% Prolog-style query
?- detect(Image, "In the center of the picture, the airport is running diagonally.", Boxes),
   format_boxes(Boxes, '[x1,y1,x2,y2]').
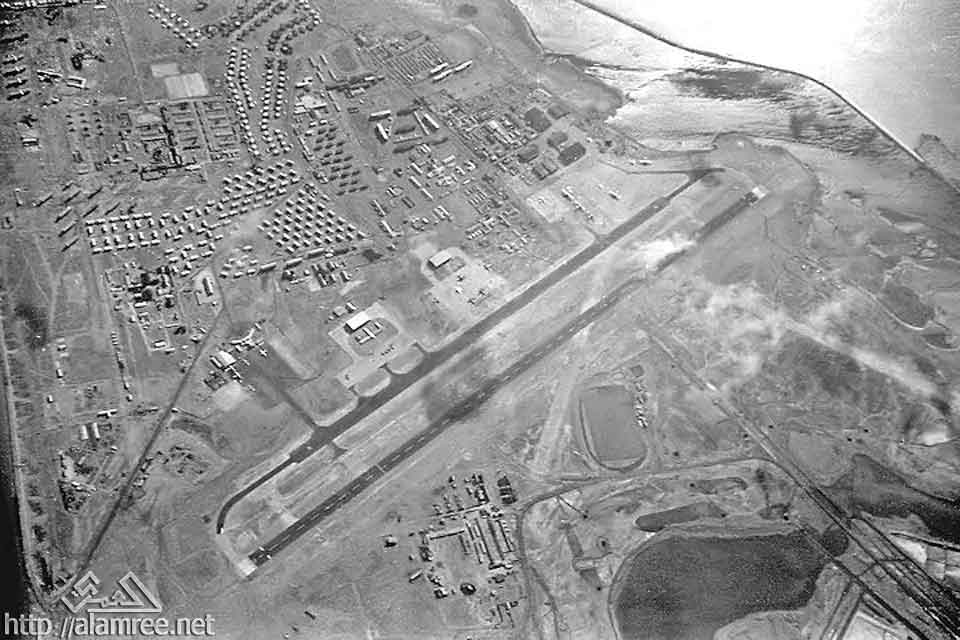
[216,160,768,575]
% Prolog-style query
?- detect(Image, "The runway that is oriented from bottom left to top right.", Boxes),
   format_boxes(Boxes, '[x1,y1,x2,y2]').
[248,197,757,565]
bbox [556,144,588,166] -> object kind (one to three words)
hangar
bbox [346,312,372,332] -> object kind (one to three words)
hangar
